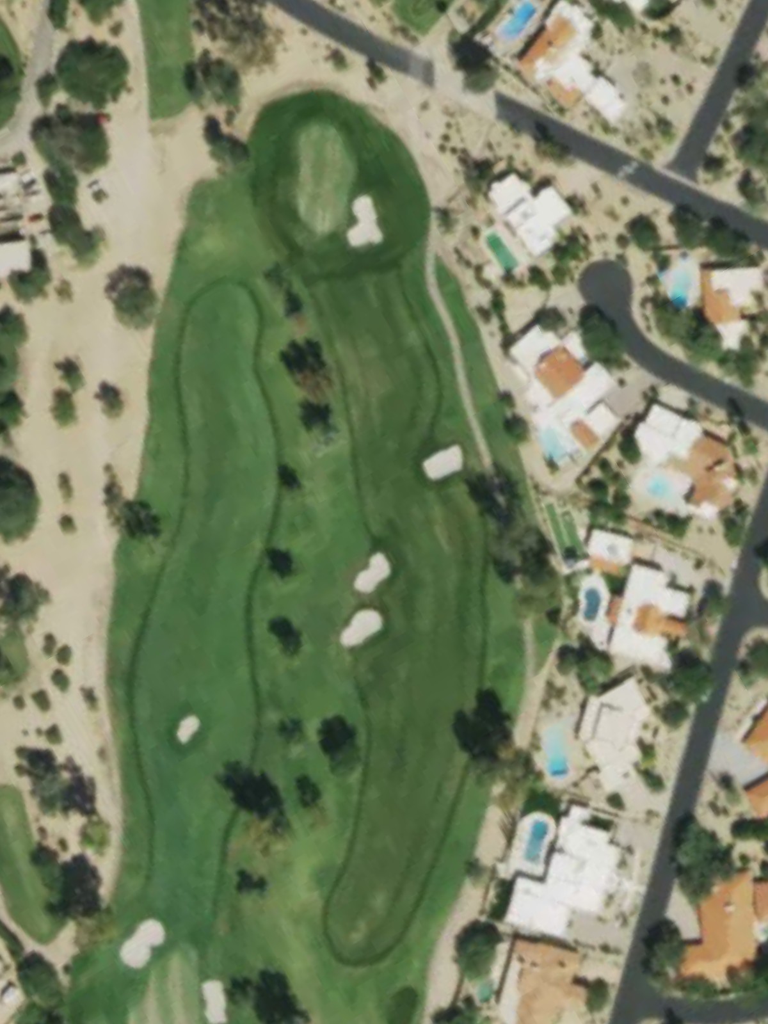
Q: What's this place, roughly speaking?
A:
golf course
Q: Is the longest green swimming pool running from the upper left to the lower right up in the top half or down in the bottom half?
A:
top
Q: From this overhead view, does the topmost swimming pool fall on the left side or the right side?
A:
right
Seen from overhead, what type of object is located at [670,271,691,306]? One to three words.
swimming pool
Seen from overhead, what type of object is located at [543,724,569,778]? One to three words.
swimming pool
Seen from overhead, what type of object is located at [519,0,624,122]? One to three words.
house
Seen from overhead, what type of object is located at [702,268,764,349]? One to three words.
house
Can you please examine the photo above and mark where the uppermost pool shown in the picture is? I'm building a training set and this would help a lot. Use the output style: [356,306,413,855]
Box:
[501,0,537,39]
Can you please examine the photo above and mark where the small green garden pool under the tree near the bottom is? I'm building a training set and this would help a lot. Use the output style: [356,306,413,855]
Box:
[477,983,493,1002]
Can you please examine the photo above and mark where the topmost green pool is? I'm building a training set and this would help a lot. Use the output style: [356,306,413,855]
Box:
[486,231,518,270]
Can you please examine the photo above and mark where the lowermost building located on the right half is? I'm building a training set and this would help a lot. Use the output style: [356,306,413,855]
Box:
[514,941,590,1024]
